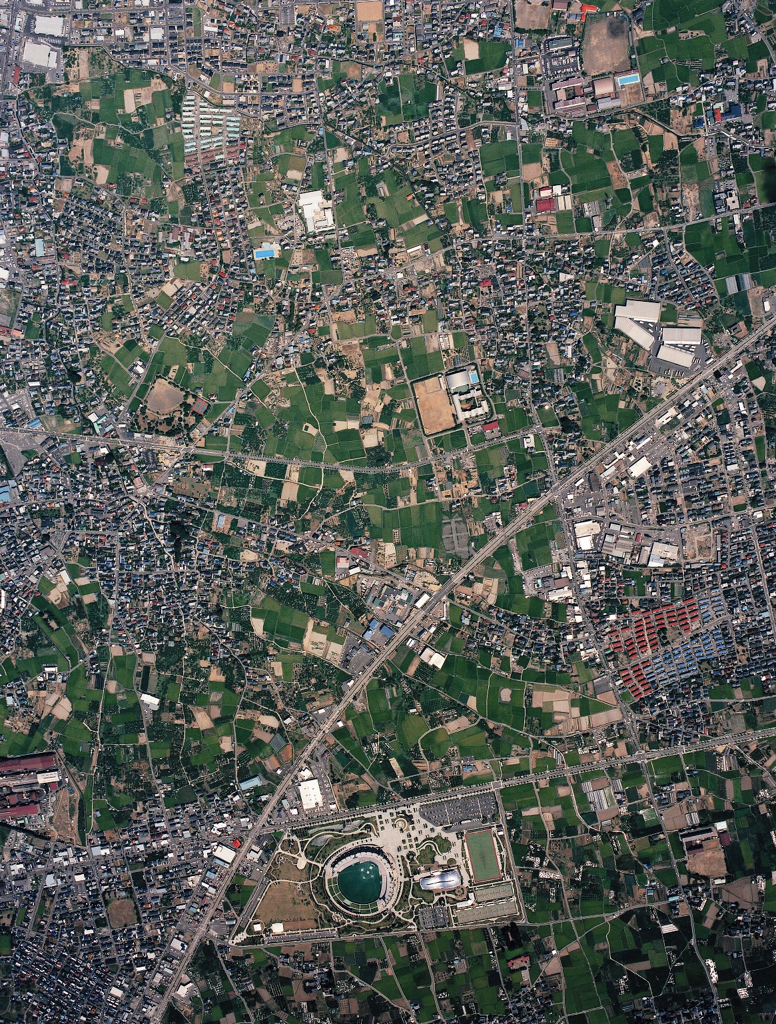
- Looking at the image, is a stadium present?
Yes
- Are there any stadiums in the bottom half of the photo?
Yes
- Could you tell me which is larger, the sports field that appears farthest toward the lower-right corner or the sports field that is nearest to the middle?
the sports field that is nearest to the middle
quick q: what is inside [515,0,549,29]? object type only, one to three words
sports field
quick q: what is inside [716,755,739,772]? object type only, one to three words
greenhouse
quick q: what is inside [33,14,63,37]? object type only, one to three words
building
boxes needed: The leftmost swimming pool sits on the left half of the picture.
[254,243,281,260]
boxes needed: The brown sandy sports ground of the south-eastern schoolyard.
[686,849,727,877]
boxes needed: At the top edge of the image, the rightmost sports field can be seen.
[583,13,631,73]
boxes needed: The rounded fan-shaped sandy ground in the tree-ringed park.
[147,378,185,413]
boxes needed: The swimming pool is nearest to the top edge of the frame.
[616,71,640,89]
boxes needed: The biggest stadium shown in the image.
[326,852,393,917]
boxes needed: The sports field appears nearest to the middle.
[413,377,455,434]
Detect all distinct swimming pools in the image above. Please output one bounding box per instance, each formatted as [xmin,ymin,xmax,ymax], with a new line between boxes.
[616,71,640,89]
[469,370,479,384]
[254,243,281,260]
